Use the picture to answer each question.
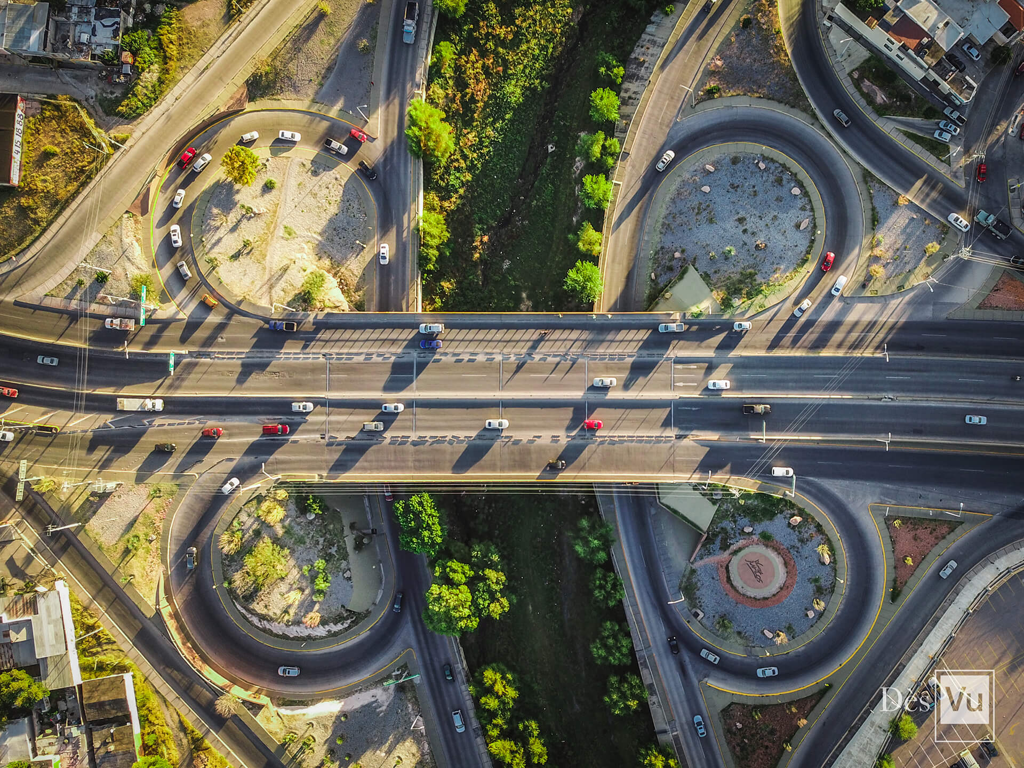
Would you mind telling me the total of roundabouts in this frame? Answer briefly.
0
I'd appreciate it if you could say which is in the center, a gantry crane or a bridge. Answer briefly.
bridge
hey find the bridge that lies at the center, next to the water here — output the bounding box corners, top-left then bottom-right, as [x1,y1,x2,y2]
[280,312,760,493]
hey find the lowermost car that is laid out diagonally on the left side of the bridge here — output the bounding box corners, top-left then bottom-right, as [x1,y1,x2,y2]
[220,475,240,495]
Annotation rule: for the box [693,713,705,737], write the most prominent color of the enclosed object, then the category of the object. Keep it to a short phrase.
blue vehicle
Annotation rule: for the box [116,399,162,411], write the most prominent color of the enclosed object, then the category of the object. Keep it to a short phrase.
white vehicle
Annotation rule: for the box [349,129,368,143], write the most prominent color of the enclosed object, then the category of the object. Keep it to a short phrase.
red car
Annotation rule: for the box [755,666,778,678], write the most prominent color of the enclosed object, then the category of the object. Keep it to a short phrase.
blue vehicle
